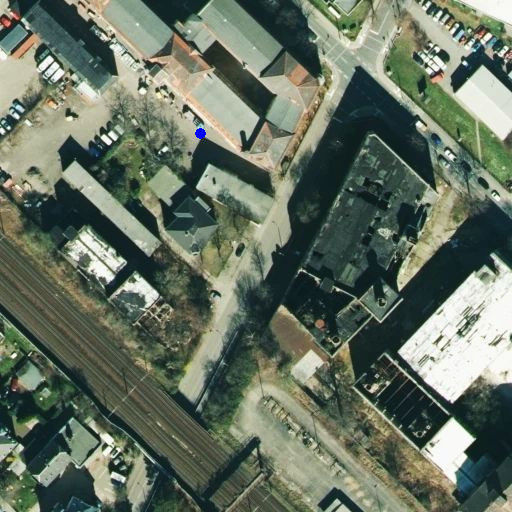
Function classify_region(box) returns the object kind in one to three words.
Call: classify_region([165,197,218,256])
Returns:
house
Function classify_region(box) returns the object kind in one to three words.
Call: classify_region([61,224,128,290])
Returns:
building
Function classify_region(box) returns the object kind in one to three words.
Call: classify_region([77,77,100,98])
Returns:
truck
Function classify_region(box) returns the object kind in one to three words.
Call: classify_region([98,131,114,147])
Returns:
vehicle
